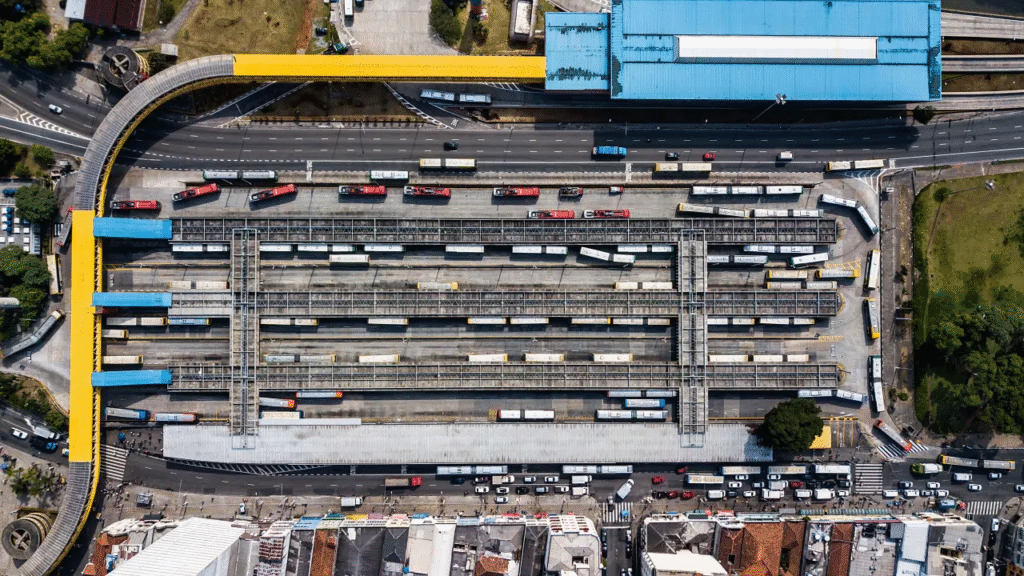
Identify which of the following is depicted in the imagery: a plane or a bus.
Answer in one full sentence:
Visible in the photo is a bus.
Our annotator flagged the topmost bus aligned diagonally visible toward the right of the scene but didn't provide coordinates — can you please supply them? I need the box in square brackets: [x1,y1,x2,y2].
[816,193,879,235]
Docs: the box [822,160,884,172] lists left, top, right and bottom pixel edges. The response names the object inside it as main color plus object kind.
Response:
white vehicle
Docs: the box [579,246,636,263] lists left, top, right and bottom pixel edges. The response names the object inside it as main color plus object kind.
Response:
white vehicle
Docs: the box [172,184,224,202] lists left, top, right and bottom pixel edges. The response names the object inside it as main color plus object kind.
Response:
red vehicle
